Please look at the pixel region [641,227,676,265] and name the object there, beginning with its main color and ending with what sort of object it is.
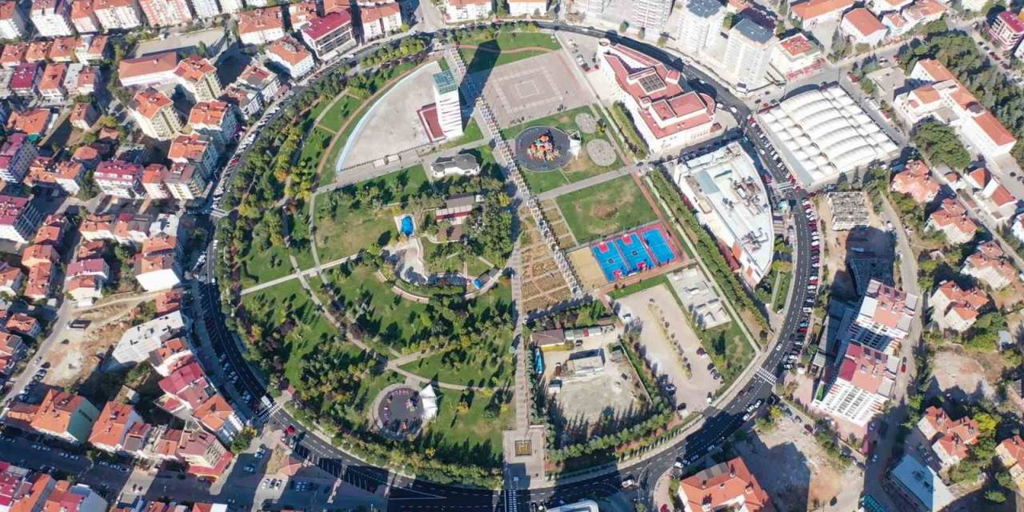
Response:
blue tennis court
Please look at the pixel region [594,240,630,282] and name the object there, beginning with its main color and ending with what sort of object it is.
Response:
blue basketball court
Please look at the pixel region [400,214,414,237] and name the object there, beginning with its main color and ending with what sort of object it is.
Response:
blue swimming pool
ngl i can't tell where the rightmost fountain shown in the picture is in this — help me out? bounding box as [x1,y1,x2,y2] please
[514,439,534,456]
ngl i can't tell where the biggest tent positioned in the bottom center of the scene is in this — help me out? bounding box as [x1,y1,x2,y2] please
[419,383,437,417]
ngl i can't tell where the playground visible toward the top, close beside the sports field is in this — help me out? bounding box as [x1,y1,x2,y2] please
[514,125,571,172]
